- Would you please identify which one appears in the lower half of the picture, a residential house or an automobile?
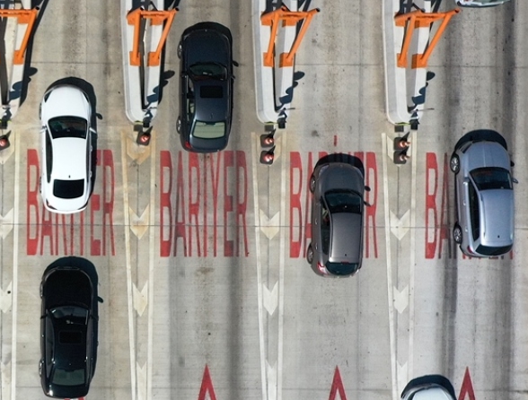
automobile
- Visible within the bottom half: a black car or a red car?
black car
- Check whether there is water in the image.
No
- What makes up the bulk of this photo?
paved ground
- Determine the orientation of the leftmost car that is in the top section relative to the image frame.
from top to bottom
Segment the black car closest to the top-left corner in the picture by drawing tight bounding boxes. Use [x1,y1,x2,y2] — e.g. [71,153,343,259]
[177,28,239,152]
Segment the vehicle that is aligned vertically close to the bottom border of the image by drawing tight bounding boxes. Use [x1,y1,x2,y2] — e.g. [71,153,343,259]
[37,268,99,400]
